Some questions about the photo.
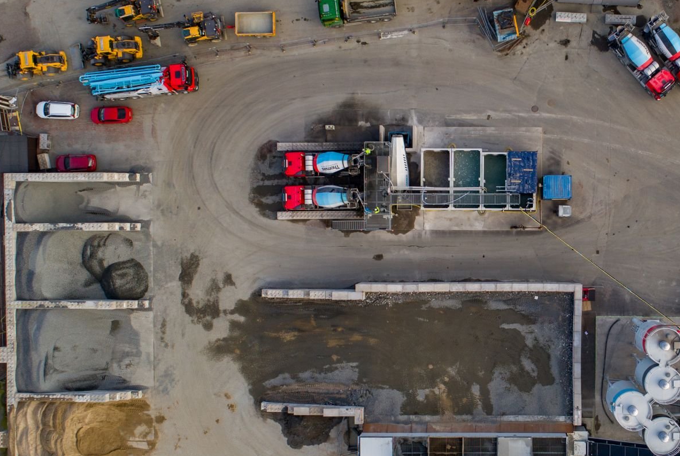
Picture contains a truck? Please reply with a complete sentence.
Yes, the frame does contain a truck.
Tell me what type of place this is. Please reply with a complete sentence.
The picture captures an industrial area.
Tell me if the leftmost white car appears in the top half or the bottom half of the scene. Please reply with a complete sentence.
The leftmost white car sits in the top half of the picture.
